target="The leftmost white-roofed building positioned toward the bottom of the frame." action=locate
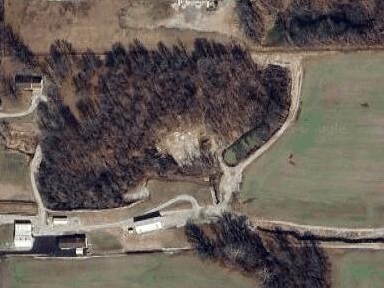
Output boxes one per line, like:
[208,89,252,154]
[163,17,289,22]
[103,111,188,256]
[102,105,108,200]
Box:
[15,223,32,247]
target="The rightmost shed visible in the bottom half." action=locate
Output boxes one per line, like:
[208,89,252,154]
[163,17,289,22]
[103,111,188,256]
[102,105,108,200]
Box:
[133,213,164,233]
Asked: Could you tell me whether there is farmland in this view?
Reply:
Yes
